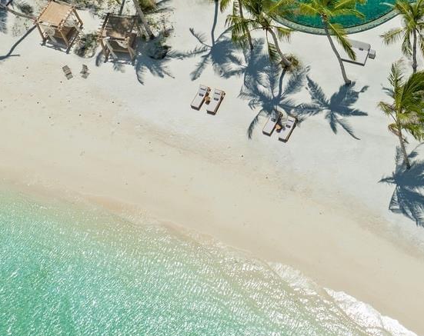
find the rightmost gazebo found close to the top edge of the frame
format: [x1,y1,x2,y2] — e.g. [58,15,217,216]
[96,11,144,52]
